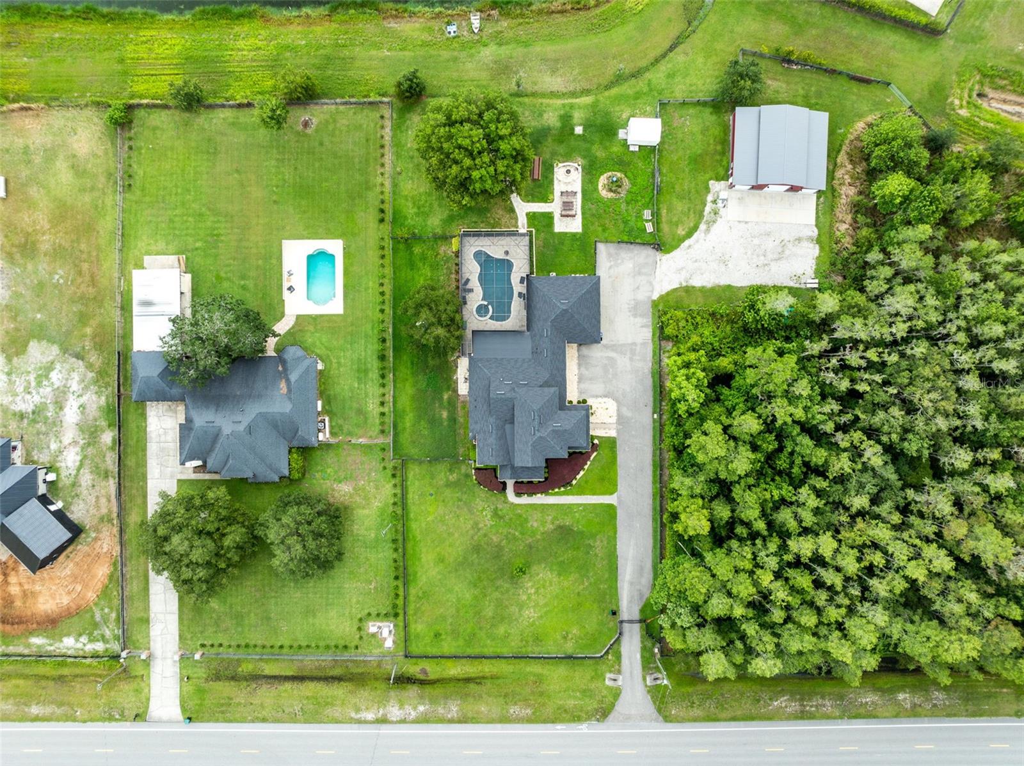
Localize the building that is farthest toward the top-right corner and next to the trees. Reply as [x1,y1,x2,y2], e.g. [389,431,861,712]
[725,104,829,194]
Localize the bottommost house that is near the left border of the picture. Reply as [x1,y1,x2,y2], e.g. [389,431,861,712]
[0,438,84,575]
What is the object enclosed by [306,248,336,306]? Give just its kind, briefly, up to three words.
swimming pool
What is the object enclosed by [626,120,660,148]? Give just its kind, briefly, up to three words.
shed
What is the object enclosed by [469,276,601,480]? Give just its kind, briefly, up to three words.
house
